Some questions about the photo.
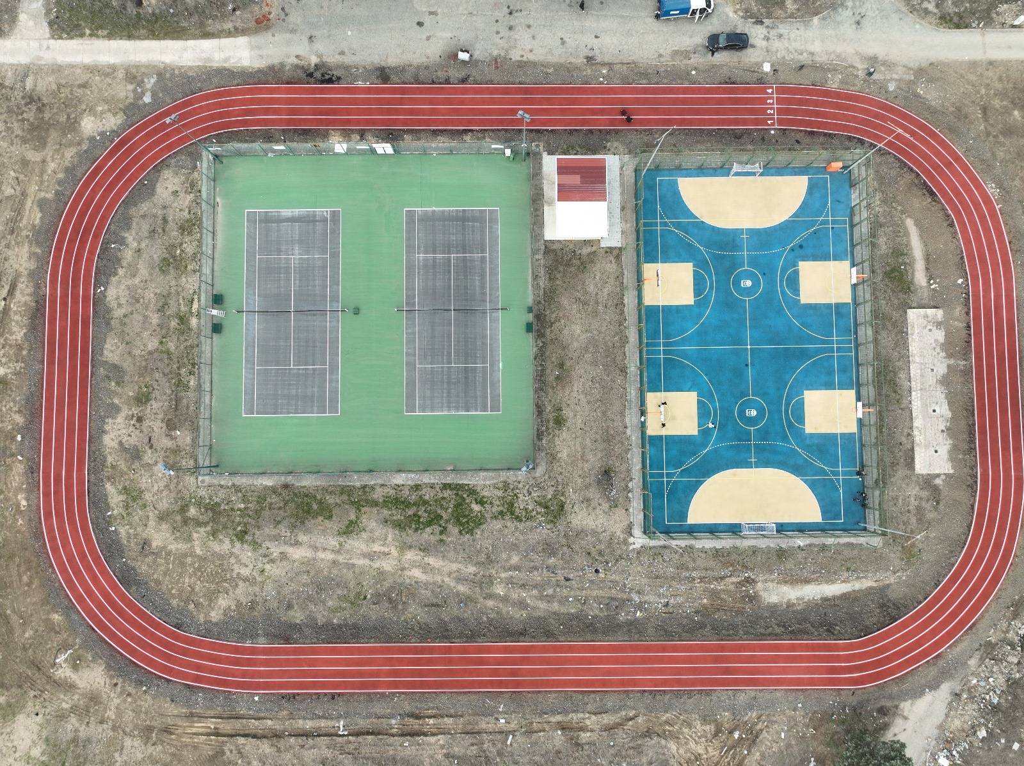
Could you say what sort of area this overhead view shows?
sports ground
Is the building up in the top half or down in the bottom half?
top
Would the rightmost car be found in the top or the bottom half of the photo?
top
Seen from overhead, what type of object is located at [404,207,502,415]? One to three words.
tennis court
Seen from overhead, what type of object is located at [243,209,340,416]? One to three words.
tennis court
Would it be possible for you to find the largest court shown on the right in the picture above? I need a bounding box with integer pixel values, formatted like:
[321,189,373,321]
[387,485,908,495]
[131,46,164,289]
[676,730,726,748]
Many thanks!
[636,167,866,534]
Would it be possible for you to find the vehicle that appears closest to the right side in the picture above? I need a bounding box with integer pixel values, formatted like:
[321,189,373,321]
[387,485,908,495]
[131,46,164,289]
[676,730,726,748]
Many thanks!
[708,28,750,49]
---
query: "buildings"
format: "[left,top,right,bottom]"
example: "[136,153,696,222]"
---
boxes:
[555,156,609,236]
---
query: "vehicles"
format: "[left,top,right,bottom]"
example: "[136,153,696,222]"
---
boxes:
[655,0,714,21]
[708,28,750,49]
